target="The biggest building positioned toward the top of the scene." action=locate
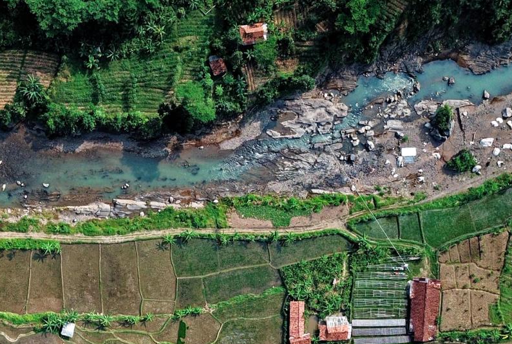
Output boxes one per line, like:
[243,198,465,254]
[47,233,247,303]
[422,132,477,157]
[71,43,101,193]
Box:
[237,22,268,51]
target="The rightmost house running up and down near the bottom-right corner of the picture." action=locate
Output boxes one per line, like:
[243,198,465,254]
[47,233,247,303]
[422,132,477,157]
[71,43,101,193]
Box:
[403,276,438,343]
